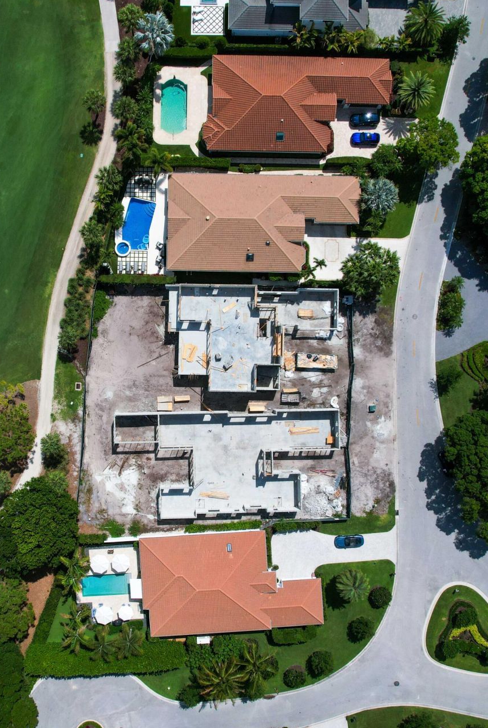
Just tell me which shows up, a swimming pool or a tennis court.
swimming pool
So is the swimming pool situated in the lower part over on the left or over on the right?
left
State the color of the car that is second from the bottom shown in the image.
black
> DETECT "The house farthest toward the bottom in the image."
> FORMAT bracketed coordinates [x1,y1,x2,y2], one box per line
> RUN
[139,531,324,638]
